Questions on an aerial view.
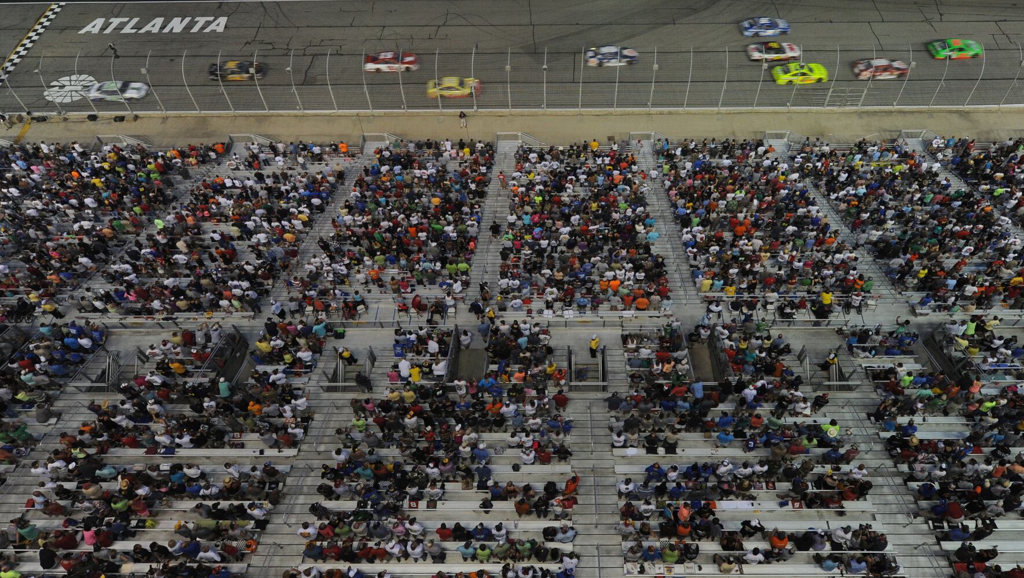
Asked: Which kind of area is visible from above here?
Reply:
sports ground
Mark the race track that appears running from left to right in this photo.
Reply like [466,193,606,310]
[0,0,1024,113]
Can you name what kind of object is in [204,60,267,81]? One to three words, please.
car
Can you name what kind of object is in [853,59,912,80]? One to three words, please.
car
